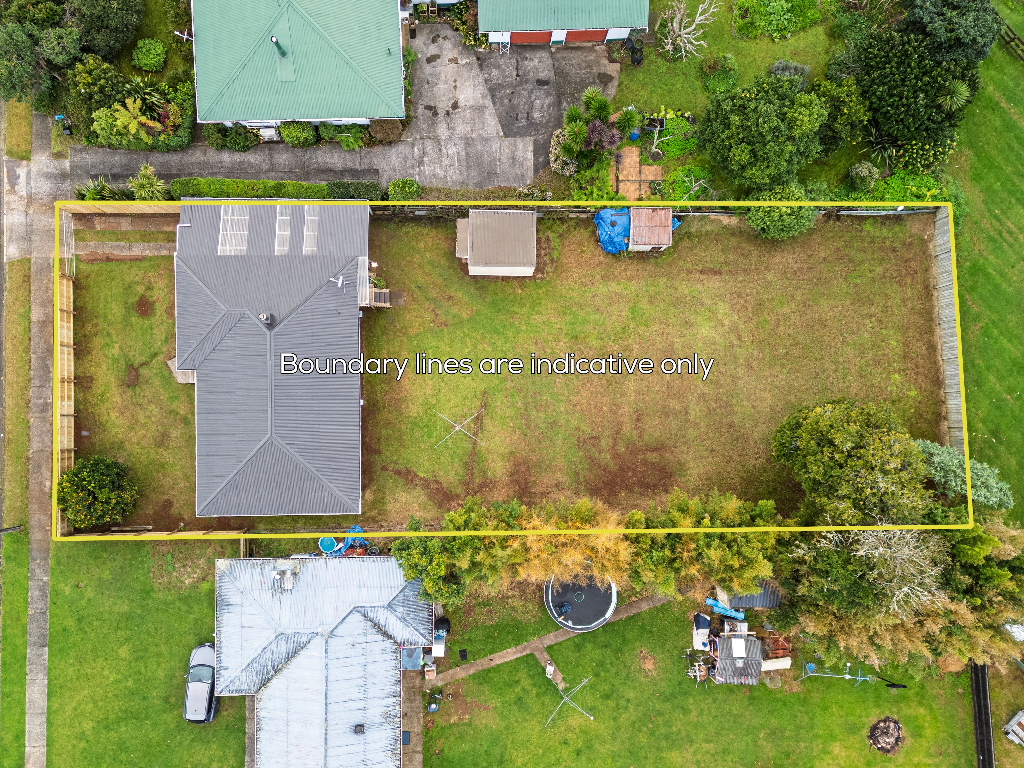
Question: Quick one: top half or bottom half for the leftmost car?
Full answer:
The leftmost car is in the bottom half of the image.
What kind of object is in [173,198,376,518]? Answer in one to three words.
house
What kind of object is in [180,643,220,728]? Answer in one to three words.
car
